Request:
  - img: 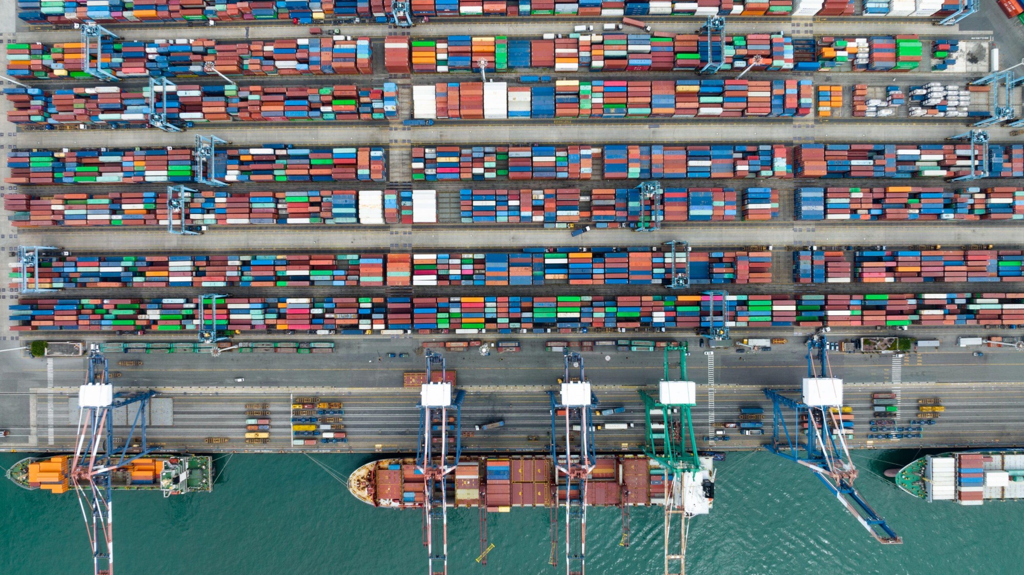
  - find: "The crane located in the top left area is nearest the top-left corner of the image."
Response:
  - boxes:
[83,23,128,82]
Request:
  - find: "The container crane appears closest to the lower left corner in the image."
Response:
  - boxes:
[67,351,159,575]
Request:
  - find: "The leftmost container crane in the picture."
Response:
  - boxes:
[20,245,68,293]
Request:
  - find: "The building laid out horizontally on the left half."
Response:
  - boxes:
[45,342,87,356]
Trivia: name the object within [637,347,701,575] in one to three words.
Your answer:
container crane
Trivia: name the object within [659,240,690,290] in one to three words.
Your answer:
container crane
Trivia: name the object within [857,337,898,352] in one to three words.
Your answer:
building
